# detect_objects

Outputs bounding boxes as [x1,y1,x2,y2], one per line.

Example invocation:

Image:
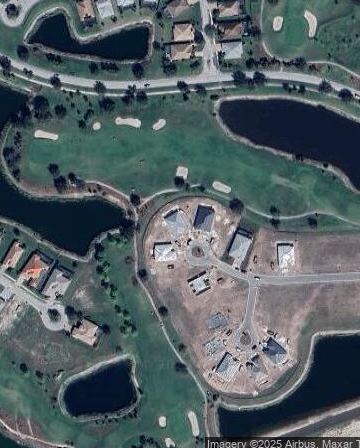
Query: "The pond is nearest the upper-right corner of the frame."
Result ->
[216,96,360,191]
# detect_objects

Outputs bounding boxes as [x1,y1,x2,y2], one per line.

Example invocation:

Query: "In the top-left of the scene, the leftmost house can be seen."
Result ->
[77,0,97,21]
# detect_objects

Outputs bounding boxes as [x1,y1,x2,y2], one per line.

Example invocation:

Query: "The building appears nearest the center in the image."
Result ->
[160,207,186,237]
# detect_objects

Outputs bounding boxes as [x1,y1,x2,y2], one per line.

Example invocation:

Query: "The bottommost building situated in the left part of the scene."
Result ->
[75,318,106,346]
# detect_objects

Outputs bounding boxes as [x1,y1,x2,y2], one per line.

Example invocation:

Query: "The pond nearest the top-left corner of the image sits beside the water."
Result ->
[27,11,150,61]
